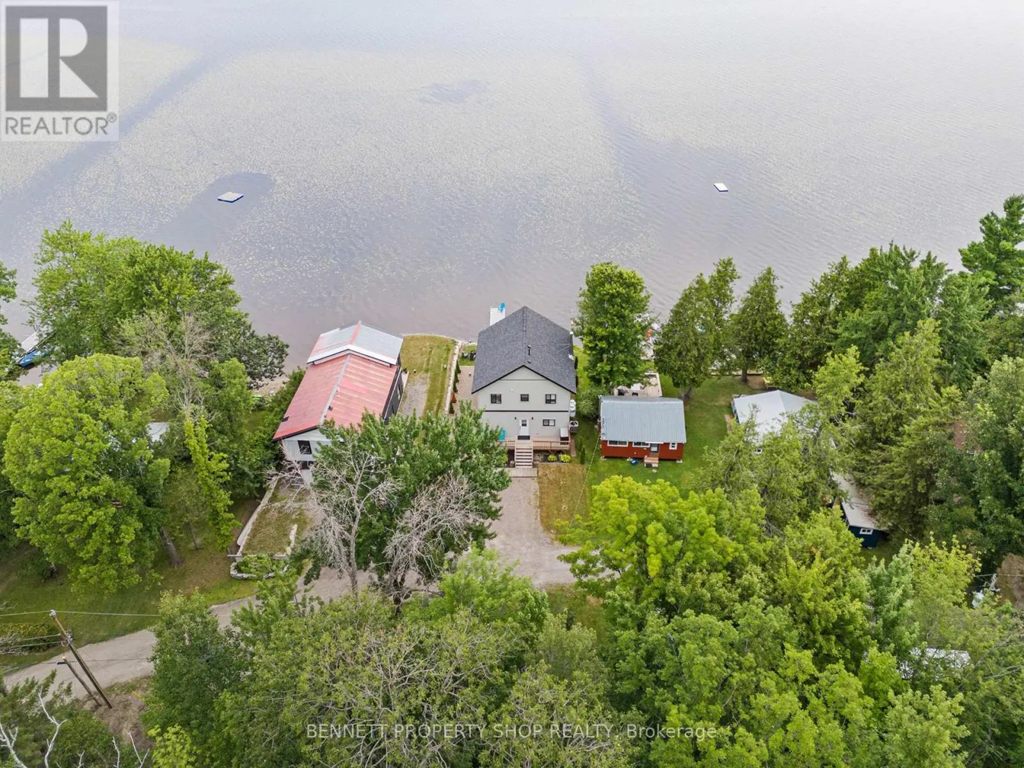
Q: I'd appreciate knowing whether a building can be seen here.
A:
Yes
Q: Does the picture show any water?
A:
Yes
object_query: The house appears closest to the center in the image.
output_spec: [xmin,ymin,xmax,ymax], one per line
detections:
[471,306,578,472]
